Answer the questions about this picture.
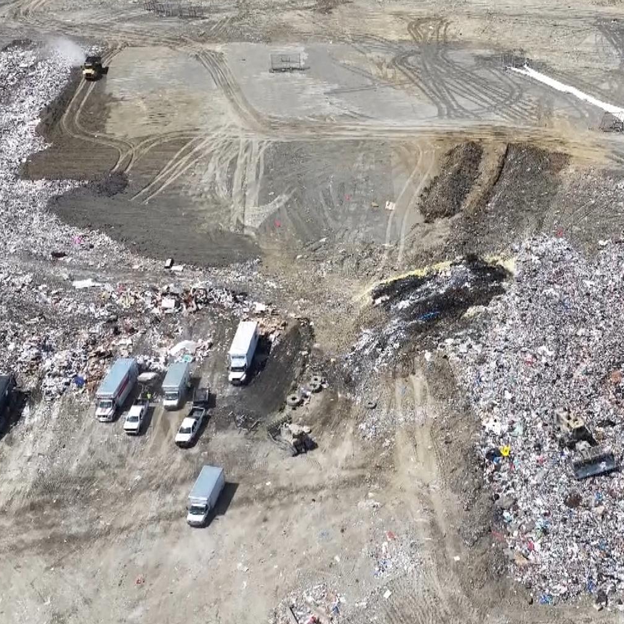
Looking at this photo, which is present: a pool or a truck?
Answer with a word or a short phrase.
truck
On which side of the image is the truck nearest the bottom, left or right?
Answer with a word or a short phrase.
left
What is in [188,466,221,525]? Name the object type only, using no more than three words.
truck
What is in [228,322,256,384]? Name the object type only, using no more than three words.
truck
